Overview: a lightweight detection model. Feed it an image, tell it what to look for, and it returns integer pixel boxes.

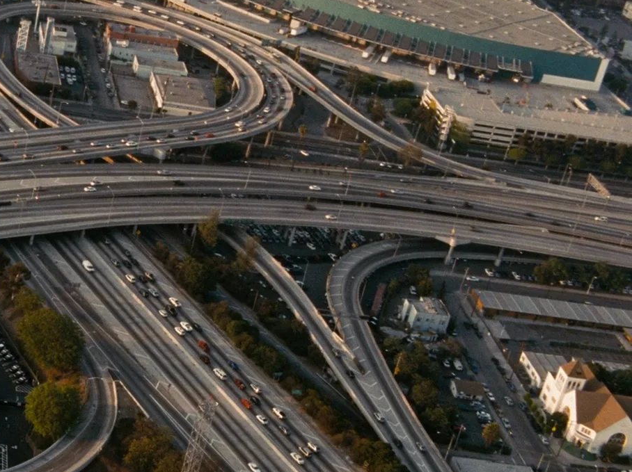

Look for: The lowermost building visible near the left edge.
[14,52,61,96]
